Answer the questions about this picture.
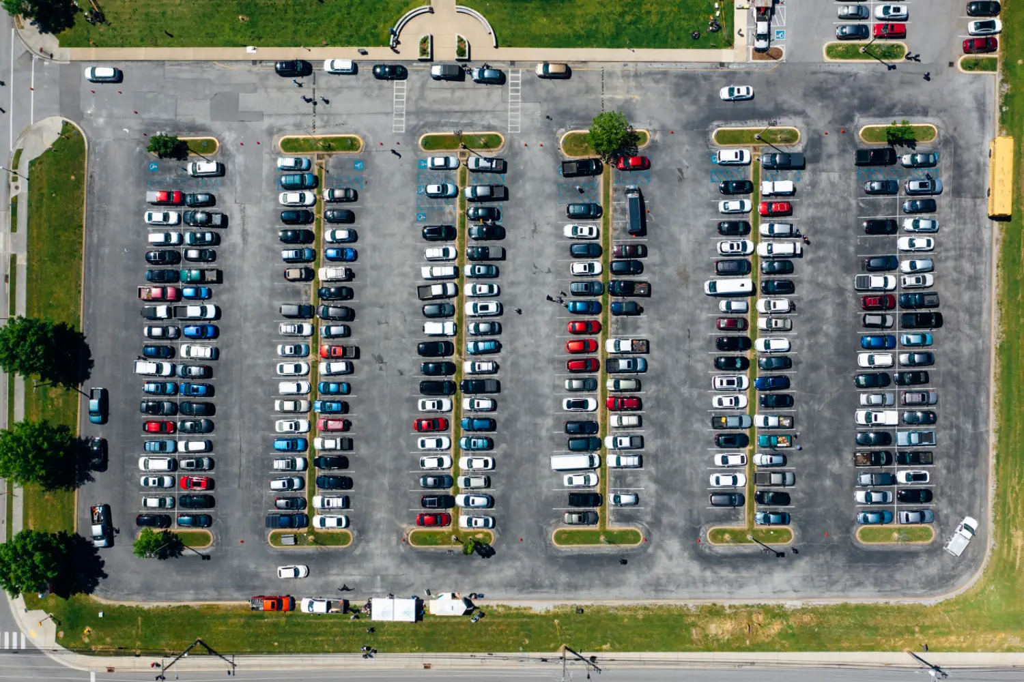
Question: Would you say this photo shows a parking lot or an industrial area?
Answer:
parking lot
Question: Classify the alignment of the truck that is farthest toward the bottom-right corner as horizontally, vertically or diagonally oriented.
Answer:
diagonally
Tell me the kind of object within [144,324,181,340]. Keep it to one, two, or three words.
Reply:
car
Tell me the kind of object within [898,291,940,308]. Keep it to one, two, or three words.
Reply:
vehicle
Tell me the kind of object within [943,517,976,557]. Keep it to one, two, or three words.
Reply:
truck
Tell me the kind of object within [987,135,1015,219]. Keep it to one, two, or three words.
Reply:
bus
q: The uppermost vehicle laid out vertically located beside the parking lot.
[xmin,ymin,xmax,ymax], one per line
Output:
[754,6,772,53]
